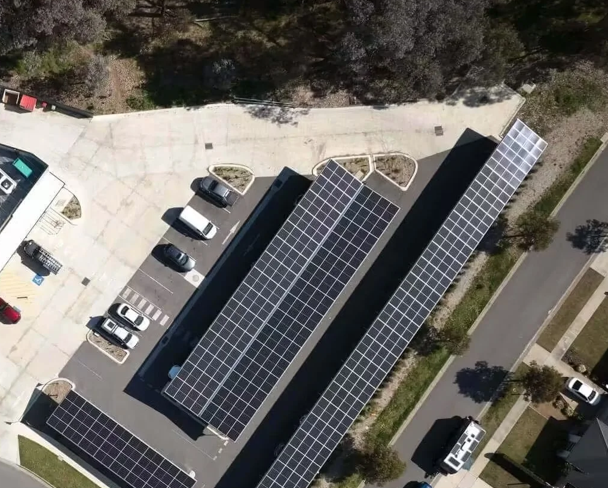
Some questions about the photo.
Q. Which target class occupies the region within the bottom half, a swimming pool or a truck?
truck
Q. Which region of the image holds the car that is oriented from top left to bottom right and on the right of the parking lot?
bottom right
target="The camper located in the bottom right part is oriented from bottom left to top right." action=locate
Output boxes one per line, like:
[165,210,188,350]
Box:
[429,417,483,475]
